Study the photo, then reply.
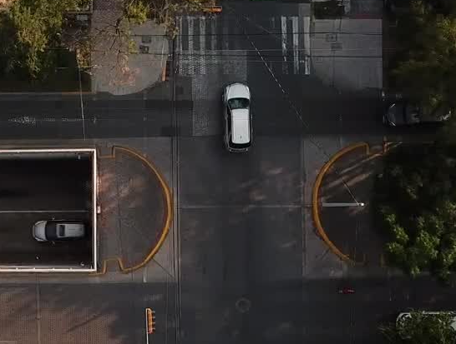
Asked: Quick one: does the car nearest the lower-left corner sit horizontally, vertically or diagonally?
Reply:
horizontally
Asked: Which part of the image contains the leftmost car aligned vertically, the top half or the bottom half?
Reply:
top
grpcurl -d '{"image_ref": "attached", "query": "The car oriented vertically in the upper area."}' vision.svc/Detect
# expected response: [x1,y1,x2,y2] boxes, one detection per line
[222,84,255,152]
